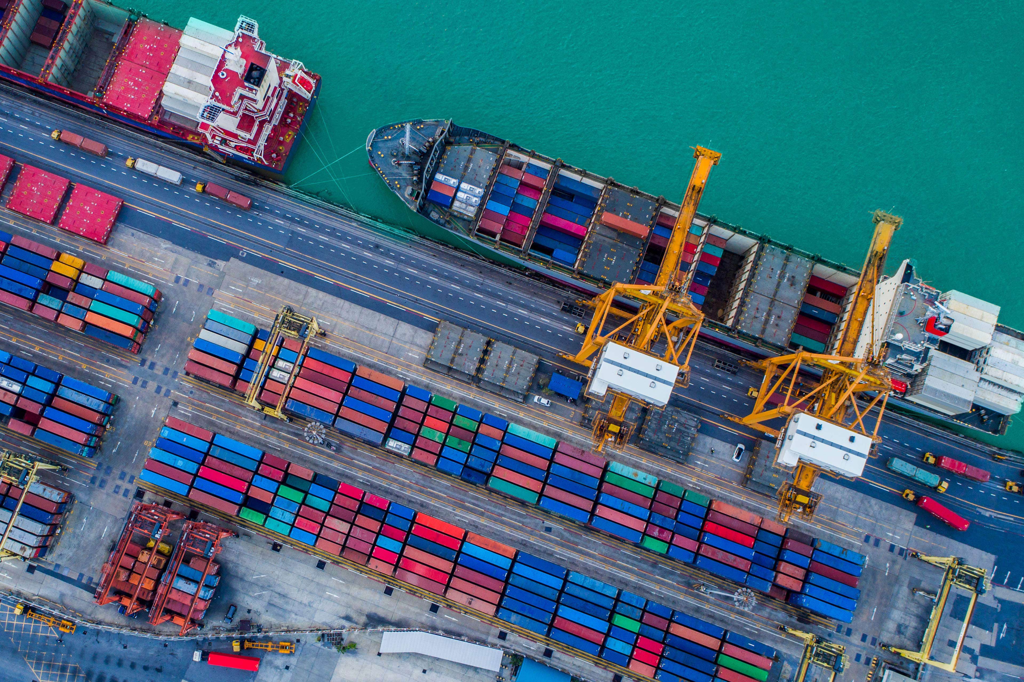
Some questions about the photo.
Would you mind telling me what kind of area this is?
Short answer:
port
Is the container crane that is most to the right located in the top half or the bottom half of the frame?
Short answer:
bottom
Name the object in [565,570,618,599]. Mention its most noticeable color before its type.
blue shipping container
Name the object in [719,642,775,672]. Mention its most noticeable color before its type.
red shipping container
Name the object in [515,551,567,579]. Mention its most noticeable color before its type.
blue shipping container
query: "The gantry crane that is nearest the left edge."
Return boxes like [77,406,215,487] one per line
[0,447,69,564]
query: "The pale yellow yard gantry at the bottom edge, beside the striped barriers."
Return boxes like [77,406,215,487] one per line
[773,622,852,682]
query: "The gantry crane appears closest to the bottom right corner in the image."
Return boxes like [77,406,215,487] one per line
[882,551,992,676]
